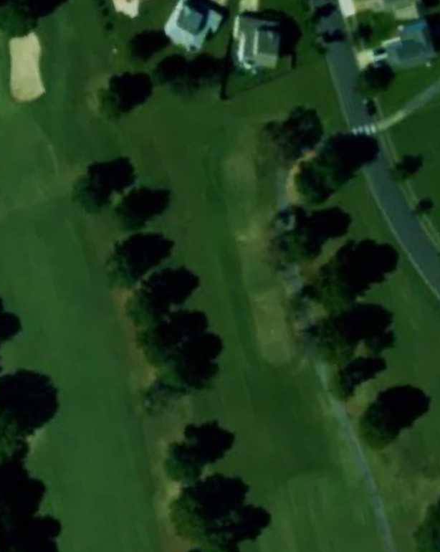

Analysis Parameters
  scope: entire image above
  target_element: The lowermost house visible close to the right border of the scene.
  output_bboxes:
[376,17,439,65]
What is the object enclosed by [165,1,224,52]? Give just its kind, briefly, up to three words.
house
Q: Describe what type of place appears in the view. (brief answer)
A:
golf course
